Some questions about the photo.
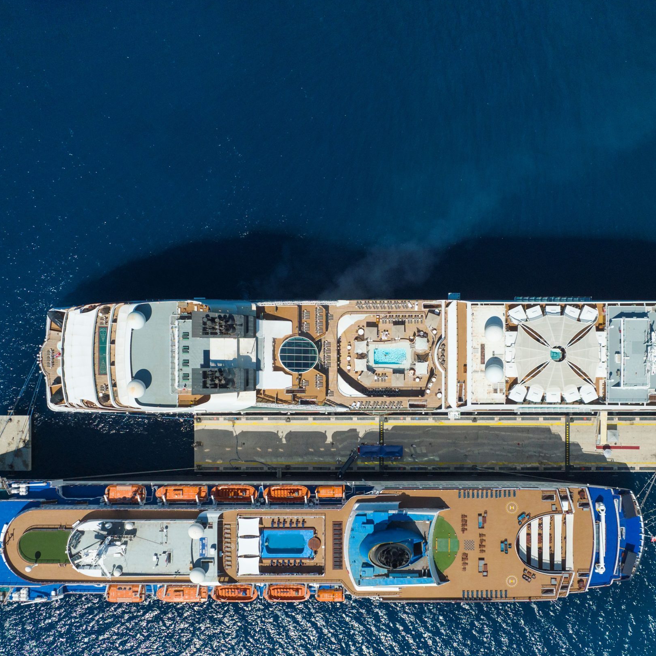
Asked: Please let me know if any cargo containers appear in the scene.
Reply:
No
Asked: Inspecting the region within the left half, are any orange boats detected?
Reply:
Yes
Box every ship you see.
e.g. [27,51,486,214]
[0,476,656,608]
[37,293,656,418]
